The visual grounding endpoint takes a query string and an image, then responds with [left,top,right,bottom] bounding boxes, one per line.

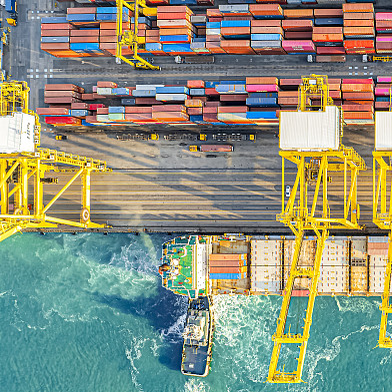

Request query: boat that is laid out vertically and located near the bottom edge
[180,298,212,377]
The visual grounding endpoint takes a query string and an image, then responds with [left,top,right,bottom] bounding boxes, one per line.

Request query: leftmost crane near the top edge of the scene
[114,0,160,71]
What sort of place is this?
port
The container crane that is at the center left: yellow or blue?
yellow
